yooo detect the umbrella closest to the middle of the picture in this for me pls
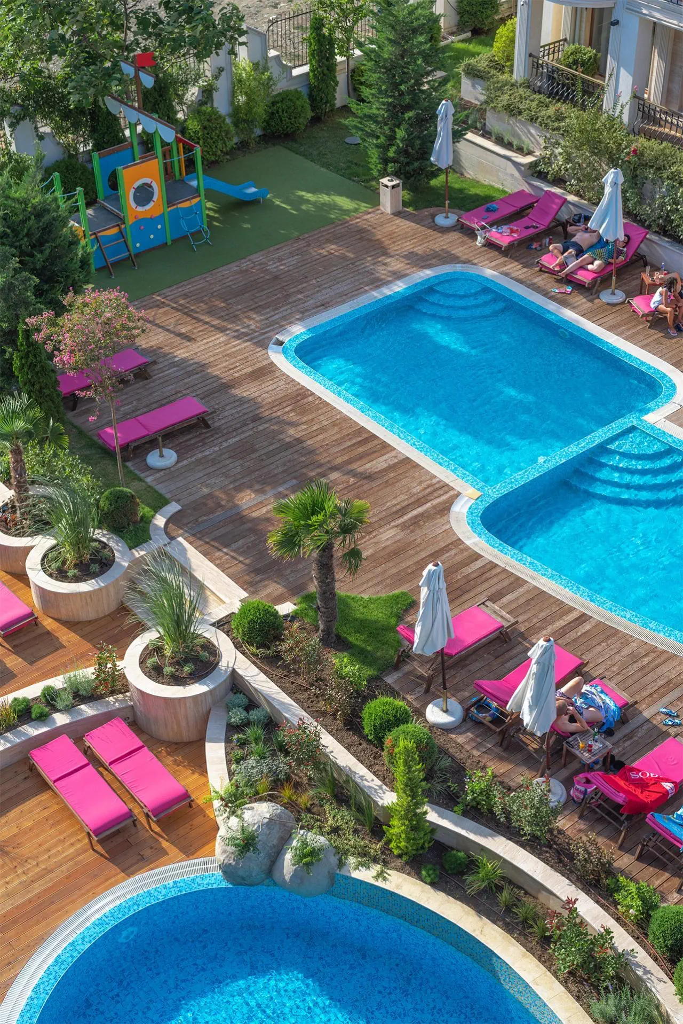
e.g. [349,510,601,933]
[407,558,462,727]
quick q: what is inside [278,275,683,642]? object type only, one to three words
swimming pool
